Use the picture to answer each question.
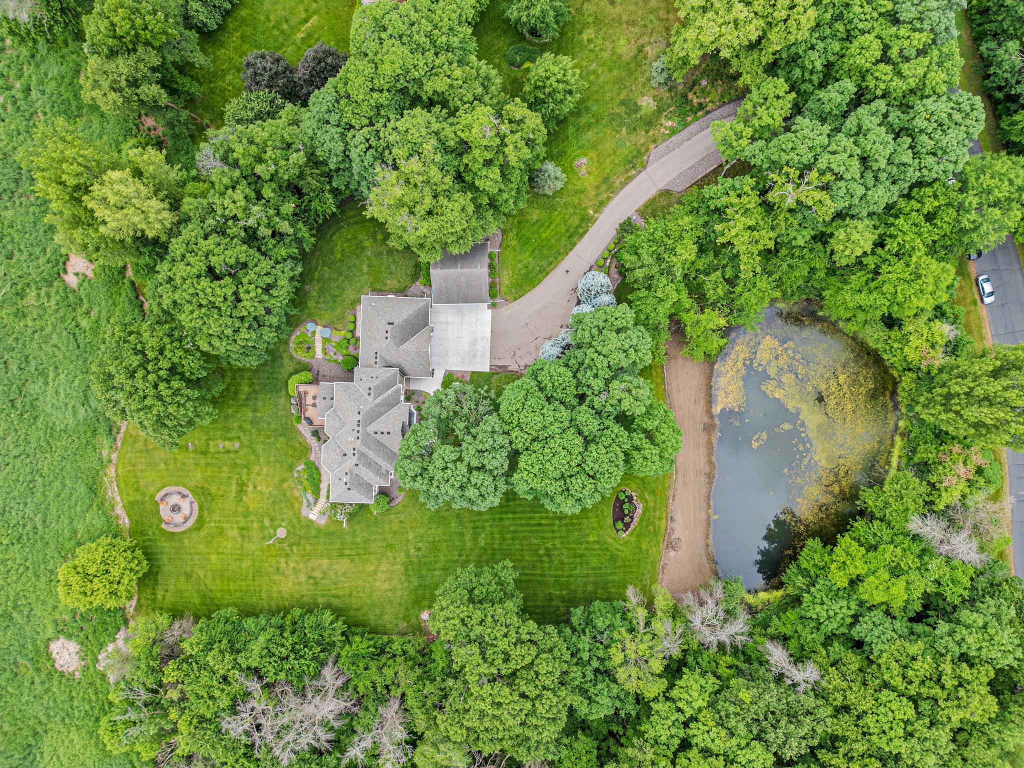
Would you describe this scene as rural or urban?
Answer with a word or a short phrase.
rural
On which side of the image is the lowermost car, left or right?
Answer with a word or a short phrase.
right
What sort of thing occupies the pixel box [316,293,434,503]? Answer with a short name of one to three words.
house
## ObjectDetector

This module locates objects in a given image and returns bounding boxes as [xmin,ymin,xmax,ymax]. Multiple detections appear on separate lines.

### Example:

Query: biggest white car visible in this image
[976,274,996,305]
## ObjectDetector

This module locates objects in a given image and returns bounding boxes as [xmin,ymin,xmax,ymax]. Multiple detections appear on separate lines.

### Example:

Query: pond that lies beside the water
[710,300,900,591]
